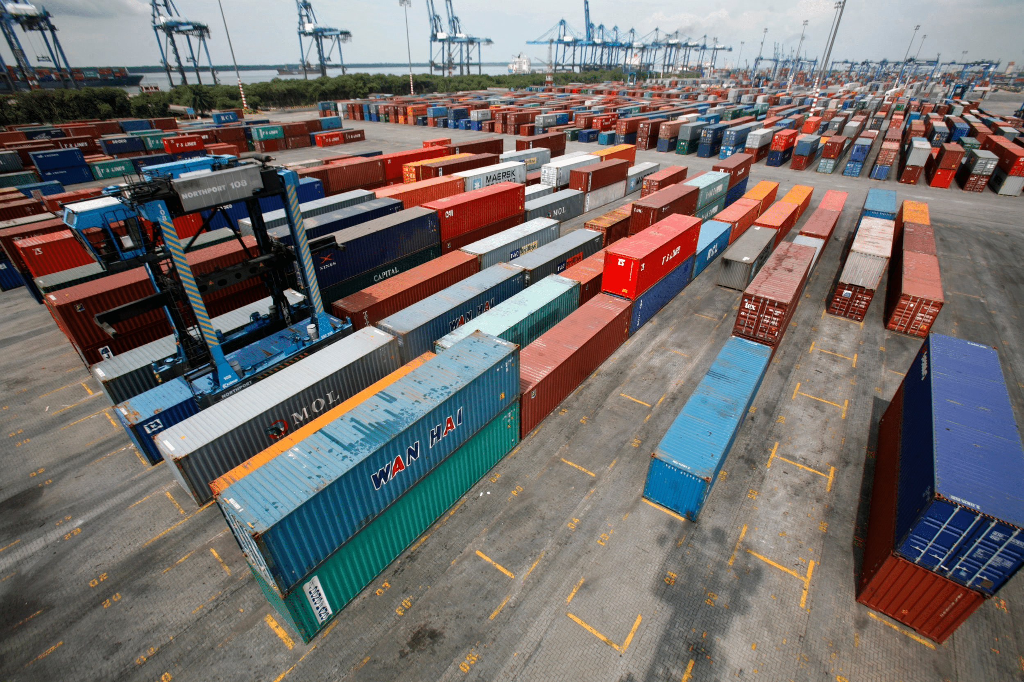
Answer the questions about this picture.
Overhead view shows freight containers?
Yes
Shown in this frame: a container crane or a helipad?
container crane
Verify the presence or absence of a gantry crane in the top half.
Yes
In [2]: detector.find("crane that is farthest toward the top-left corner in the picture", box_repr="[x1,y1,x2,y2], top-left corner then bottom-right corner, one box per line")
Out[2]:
[2,0,92,91]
